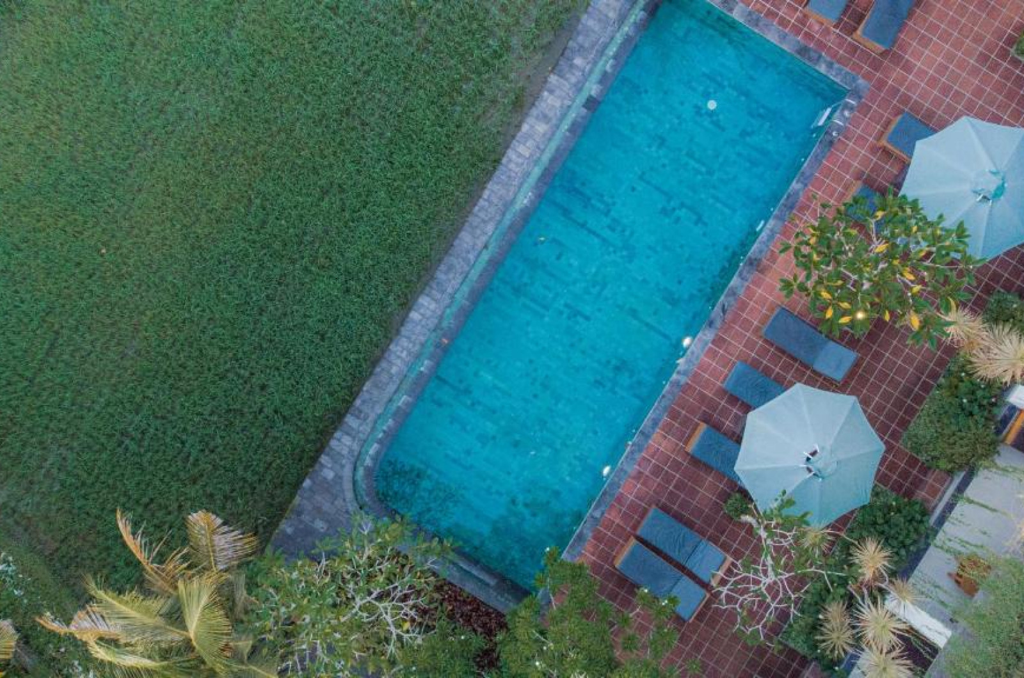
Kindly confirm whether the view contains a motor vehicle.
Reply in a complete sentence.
No, the scene contains no motor vehicle.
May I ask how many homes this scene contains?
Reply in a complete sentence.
The picture shows no homes.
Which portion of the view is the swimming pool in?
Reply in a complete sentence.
The swimming pool sits in the center section of the image.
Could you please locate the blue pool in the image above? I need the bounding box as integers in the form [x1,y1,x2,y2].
[379,0,848,594]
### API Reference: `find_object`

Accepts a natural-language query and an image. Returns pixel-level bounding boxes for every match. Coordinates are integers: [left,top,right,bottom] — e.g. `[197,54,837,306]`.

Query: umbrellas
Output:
[733,382,884,530]
[898,113,1024,264]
